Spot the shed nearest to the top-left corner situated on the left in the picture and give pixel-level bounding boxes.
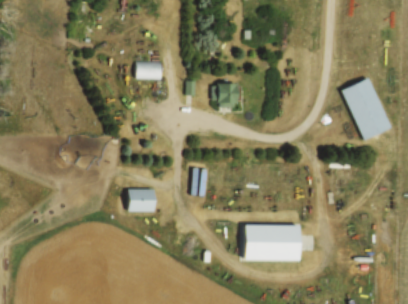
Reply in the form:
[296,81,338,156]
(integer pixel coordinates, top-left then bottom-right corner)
[133,61,163,80]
